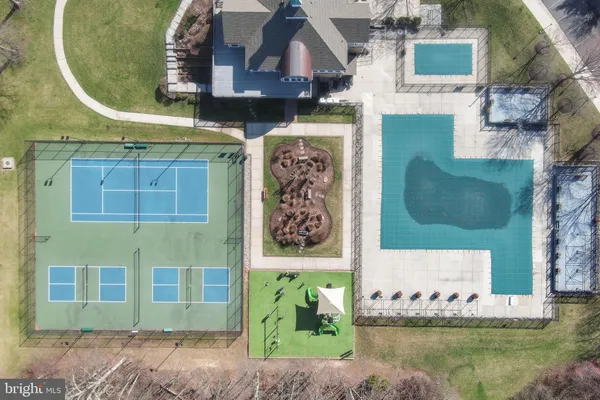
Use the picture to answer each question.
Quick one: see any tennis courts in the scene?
Yes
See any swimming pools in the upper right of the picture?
Yes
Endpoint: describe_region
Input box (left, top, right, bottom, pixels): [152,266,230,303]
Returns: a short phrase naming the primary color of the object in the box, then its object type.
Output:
blue sports court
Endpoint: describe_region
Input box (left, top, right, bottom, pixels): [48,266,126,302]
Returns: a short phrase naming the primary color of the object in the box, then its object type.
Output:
blue sports court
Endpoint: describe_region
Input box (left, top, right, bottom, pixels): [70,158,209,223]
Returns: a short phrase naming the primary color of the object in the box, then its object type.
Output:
blue tennis court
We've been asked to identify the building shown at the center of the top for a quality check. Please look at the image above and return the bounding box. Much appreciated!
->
[213,0,370,100]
